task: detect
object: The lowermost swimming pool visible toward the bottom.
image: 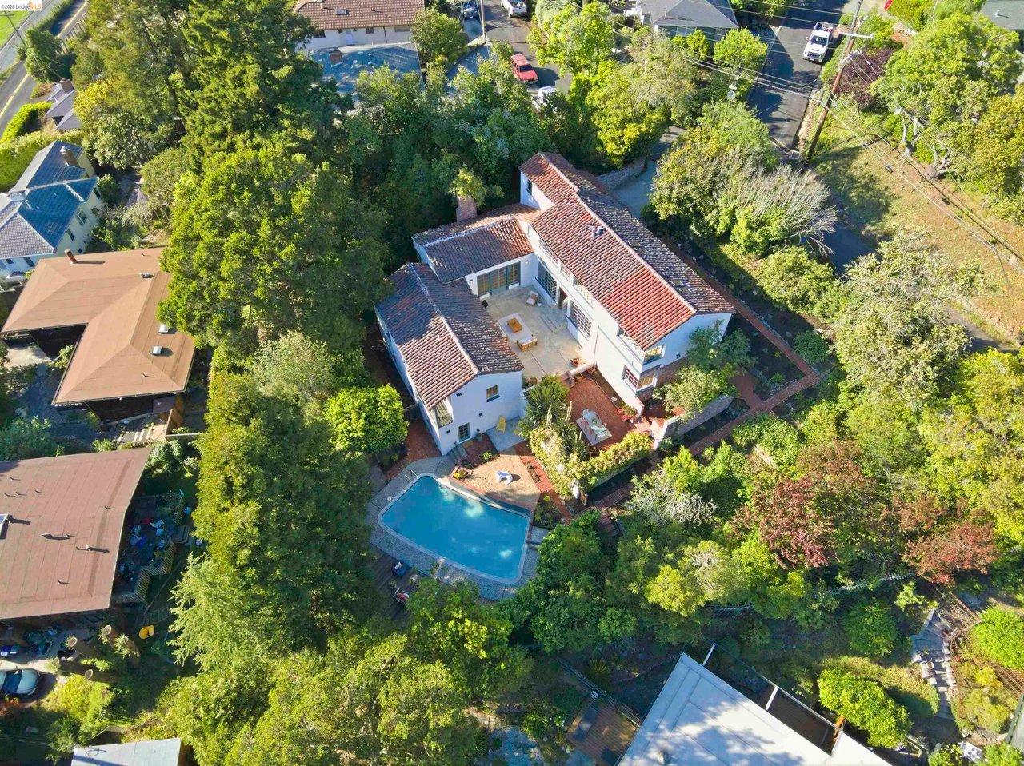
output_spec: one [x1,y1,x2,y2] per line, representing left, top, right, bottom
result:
[383,473,529,579]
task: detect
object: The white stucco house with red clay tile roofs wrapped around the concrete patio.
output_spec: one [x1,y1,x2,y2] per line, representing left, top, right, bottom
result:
[370,145,739,460]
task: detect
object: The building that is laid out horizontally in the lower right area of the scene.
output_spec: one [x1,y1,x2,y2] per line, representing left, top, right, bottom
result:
[615,642,893,766]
